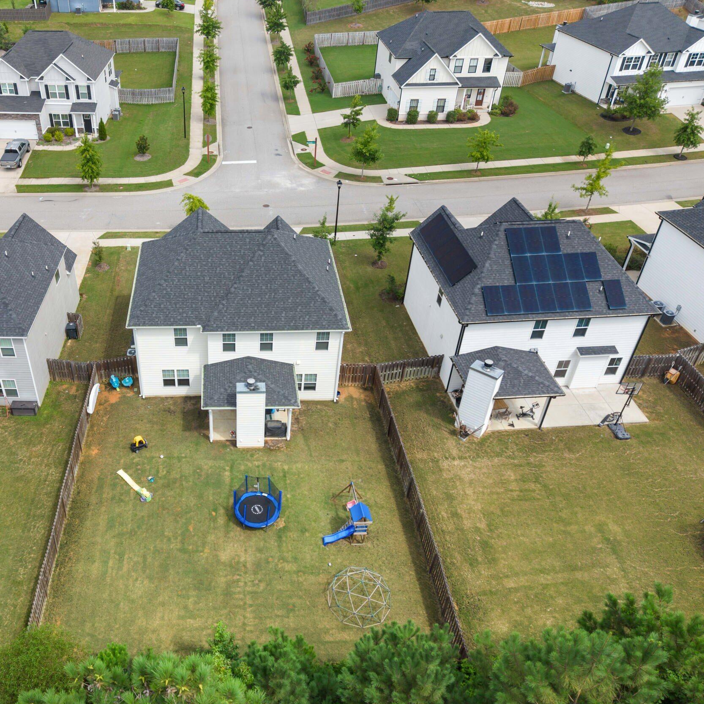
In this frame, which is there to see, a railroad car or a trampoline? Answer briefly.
trampoline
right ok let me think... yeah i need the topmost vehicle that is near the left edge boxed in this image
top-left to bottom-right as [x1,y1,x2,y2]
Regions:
[2,143,28,165]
